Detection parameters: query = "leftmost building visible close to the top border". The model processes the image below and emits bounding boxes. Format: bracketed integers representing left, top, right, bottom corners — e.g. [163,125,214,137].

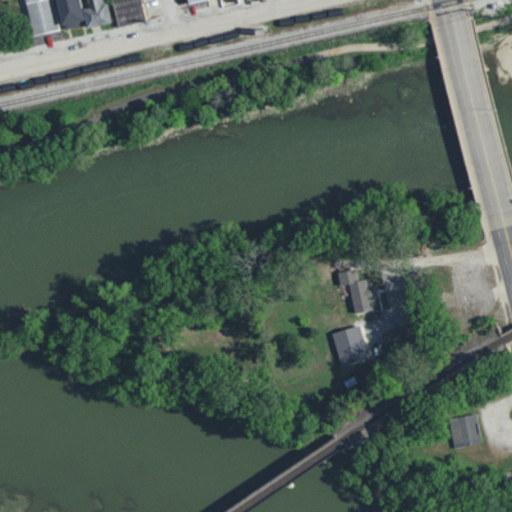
[26,0,63,38]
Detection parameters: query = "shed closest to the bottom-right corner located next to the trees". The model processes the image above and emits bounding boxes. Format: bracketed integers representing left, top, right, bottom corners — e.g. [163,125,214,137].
[450,414,482,448]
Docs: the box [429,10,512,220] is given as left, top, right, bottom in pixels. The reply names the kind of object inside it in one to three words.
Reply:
bridge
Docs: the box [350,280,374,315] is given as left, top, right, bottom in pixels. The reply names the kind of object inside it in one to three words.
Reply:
house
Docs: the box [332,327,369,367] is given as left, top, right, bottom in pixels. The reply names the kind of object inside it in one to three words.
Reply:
building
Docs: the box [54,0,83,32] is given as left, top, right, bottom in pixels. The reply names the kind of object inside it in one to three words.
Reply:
house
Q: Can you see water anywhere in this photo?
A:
Yes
